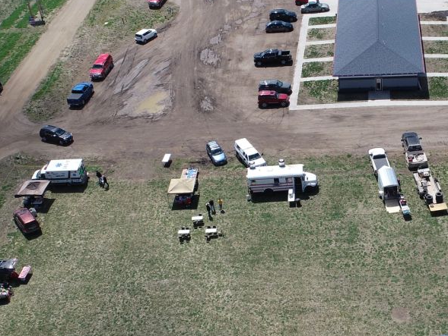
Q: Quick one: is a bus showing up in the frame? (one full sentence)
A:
Yes, looking at the shot, I can spot a bus.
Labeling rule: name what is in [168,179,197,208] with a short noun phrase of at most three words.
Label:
tent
